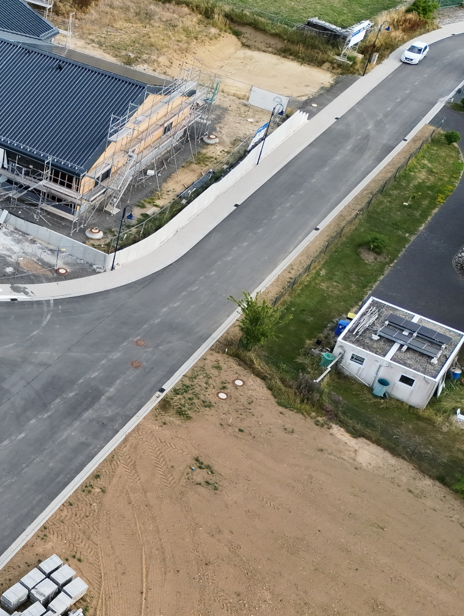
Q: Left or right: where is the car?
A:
right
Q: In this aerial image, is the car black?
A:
No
